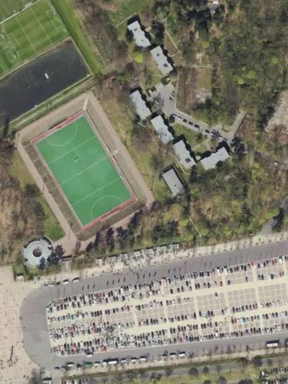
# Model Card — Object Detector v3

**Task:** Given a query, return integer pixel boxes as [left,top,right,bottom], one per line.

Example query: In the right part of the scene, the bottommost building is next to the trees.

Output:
[162,168,184,196]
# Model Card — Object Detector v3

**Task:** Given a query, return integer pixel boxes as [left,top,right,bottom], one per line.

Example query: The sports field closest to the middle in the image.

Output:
[31,111,138,230]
